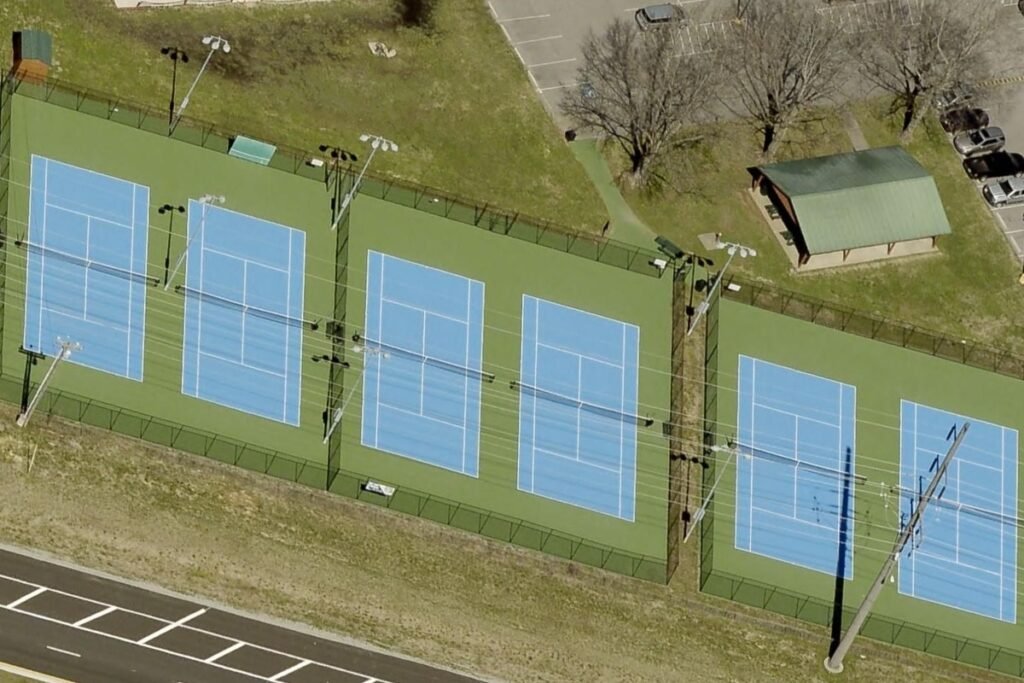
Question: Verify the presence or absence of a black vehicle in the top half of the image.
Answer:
Yes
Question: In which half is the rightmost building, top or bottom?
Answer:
top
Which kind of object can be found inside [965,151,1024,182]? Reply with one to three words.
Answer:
truck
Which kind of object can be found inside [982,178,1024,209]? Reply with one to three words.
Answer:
truck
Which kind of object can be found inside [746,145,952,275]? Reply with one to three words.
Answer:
building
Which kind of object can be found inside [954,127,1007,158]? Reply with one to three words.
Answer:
car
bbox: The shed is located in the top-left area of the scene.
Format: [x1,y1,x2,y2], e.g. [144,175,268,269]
[13,30,54,84]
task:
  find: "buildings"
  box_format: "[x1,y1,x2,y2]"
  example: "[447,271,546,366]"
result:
[13,30,54,84]
[746,145,952,275]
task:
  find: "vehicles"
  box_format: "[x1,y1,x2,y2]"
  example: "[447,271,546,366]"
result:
[635,2,686,31]
[982,178,1024,209]
[954,127,1007,158]
[965,151,1024,182]
[937,104,991,136]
